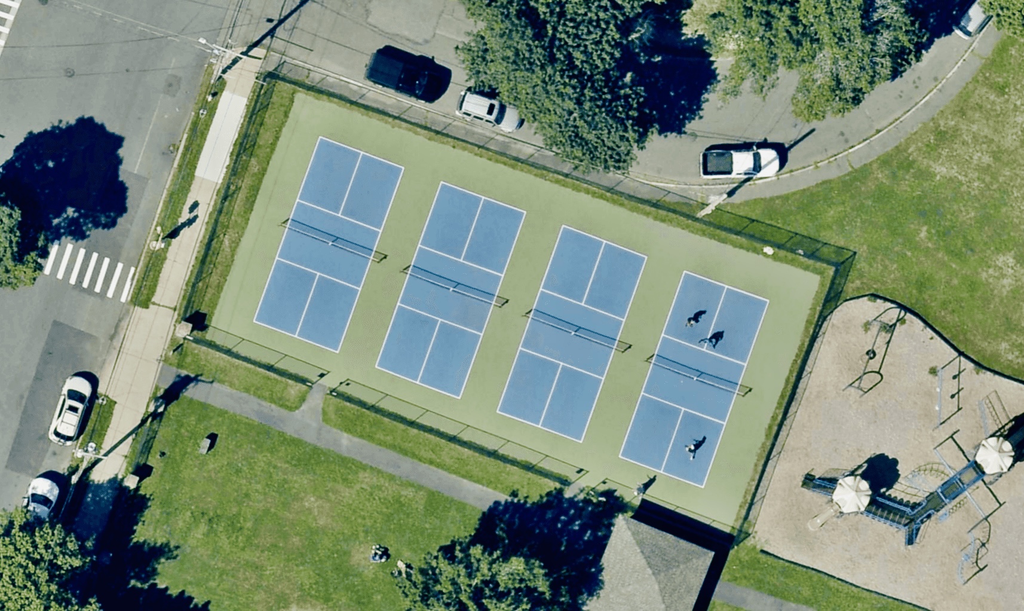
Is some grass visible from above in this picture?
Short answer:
Yes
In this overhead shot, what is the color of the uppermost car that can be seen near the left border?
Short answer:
white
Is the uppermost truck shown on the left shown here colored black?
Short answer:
Yes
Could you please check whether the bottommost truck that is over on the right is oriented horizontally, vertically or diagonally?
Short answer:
horizontally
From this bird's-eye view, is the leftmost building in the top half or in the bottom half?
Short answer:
bottom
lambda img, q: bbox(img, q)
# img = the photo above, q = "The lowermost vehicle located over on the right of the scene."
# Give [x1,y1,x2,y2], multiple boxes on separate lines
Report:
[699,146,782,182]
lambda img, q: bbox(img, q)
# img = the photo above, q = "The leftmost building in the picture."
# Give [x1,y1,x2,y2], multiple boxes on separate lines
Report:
[584,514,714,611]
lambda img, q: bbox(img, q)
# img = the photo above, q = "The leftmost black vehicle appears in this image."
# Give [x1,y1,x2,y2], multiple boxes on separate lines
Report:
[363,47,451,102]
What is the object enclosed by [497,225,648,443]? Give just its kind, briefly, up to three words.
sports court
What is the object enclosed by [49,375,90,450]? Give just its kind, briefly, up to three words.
car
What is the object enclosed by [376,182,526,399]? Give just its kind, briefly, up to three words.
sports court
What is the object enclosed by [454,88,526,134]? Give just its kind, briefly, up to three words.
car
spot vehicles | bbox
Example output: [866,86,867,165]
[49,375,90,450]
[454,88,526,134]
[952,0,994,38]
[363,47,451,102]
[699,146,782,182]
[9,478,52,543]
